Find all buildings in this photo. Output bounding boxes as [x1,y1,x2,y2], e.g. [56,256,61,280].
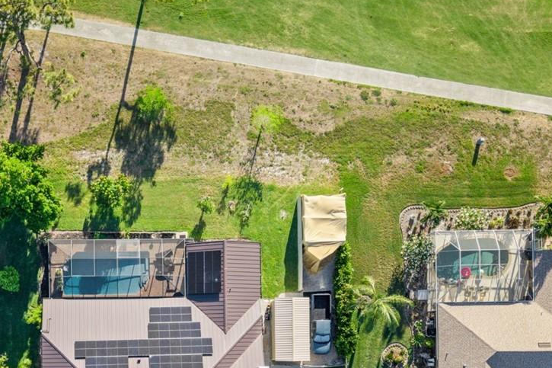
[433,247,552,368]
[272,298,309,362]
[40,239,268,368]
